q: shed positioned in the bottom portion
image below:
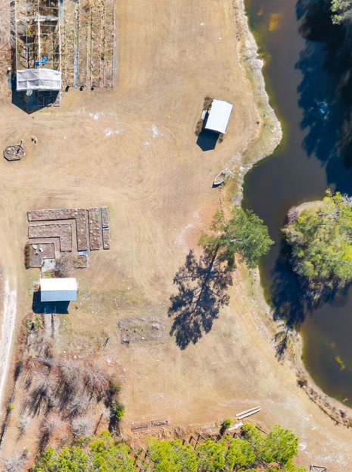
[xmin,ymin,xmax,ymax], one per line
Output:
[40,278,79,302]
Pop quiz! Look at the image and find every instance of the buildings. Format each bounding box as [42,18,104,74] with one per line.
[13,0,62,93]
[40,278,79,302]
[205,98,238,135]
